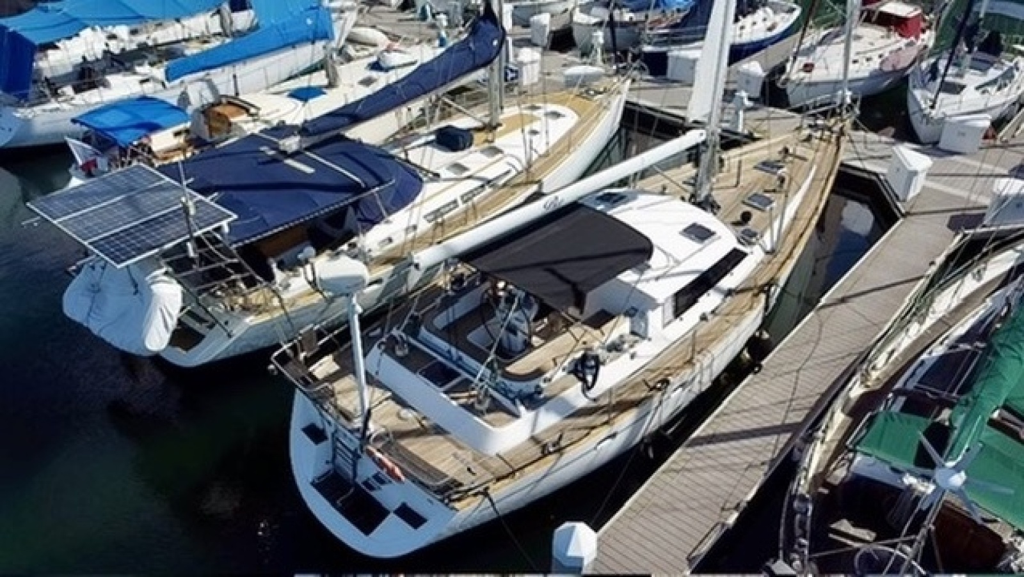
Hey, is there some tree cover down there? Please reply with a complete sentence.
No, there is no tree cover in the image.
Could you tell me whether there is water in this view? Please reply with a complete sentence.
Yes, some water is visible.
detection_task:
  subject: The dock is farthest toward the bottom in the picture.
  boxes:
[550,181,981,577]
